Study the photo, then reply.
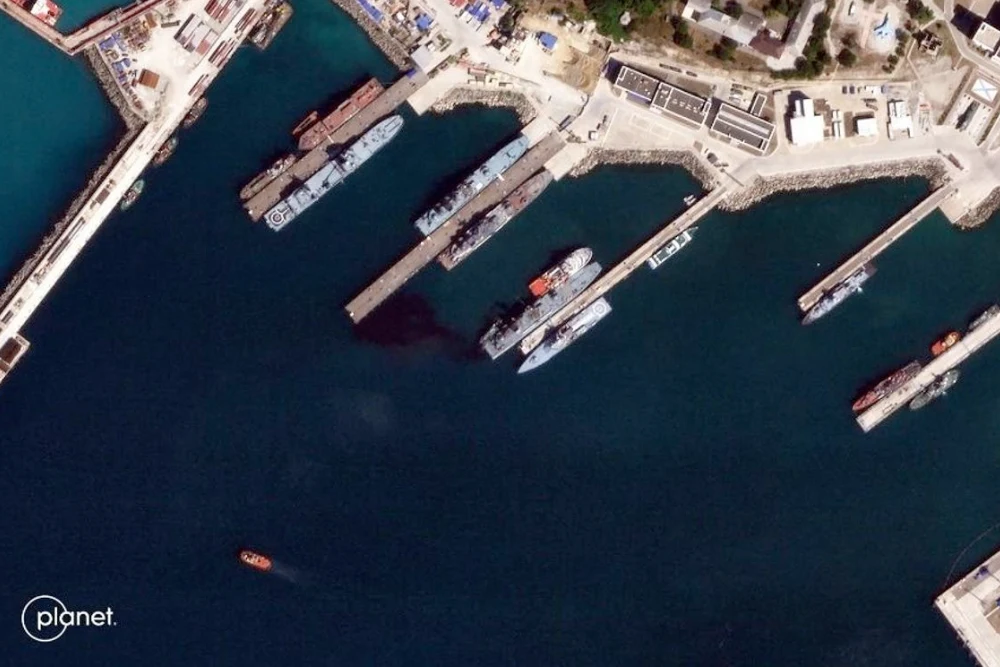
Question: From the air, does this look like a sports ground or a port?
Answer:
port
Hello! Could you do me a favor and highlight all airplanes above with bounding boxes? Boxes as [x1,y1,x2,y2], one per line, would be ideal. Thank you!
[877,19,893,38]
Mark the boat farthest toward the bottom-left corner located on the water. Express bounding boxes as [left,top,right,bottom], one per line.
[239,552,272,572]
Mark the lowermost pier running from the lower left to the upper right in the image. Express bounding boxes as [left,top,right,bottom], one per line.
[855,313,1000,433]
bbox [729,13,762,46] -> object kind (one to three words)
house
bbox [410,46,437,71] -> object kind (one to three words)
shed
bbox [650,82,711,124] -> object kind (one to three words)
building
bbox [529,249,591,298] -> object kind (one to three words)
ship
